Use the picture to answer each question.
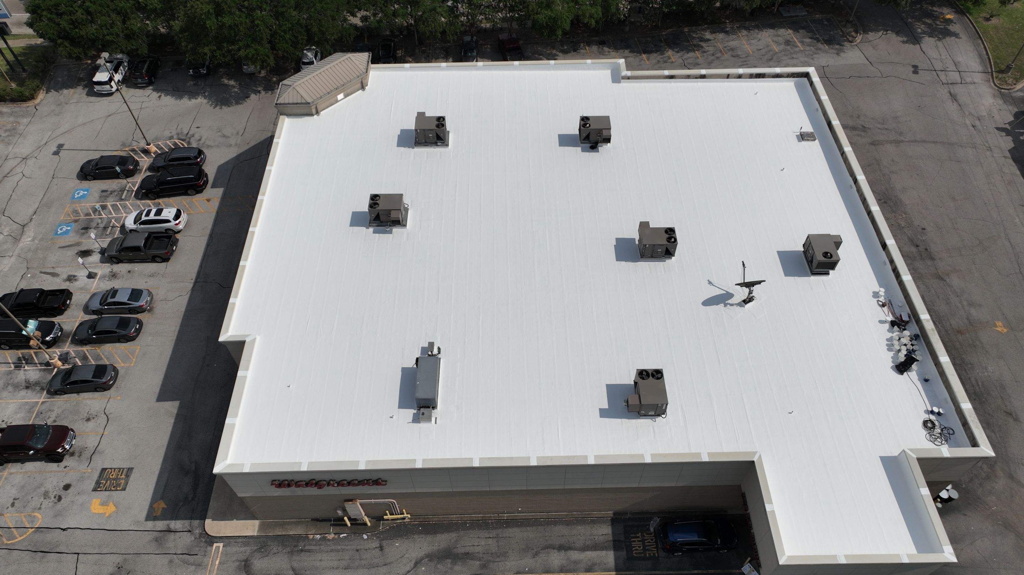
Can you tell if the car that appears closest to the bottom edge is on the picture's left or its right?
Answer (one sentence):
You can find the car that appears closest to the bottom edge on the right side of the picture.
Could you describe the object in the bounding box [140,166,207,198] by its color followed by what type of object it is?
black car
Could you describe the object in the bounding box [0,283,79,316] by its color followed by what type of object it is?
black truck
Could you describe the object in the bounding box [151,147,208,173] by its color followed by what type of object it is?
black car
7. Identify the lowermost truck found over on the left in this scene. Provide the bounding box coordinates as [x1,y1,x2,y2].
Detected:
[0,424,80,464]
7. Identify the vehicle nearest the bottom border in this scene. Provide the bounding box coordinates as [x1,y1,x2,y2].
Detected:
[658,513,739,555]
